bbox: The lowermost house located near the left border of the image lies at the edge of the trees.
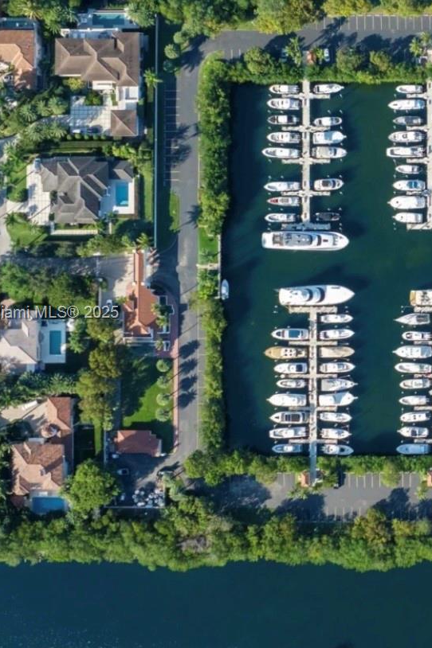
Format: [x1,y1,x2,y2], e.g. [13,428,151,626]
[9,398,75,507]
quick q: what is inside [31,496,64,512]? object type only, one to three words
swimming pool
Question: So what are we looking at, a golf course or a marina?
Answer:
marina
